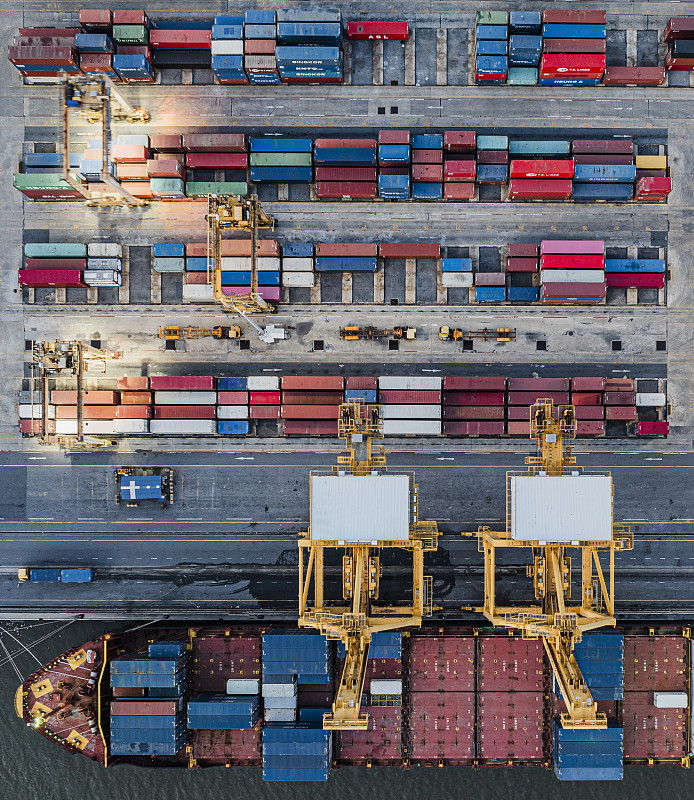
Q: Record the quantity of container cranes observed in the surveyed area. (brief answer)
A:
5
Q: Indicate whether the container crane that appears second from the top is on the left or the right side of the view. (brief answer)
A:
left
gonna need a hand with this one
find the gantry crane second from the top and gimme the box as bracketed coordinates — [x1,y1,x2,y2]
[204,187,281,311]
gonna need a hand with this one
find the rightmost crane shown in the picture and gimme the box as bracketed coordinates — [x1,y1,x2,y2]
[461,392,635,736]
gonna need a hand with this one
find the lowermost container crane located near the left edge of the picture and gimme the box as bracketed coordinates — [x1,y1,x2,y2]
[30,335,124,448]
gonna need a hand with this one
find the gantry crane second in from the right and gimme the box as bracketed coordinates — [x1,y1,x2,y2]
[295,392,442,736]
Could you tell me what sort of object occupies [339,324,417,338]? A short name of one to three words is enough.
vehicle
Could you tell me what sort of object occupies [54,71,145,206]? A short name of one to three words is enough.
container crane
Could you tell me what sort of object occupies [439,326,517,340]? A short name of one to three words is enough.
vehicle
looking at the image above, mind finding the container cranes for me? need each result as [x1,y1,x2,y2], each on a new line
[204,187,281,311]
[295,392,442,736]
[461,392,635,736]
[54,71,145,206]
[30,335,124,448]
